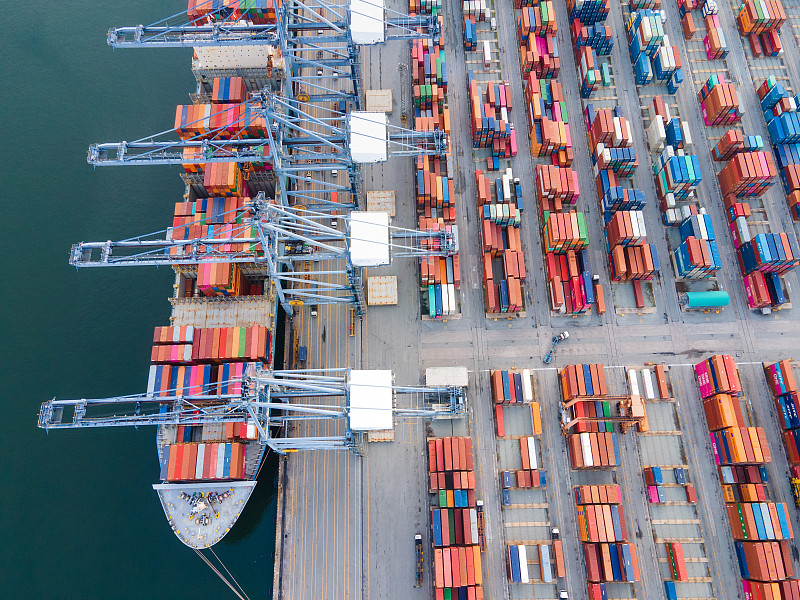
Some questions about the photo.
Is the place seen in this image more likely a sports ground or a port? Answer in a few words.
port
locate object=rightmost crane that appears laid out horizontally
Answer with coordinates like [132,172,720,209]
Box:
[559,395,653,434]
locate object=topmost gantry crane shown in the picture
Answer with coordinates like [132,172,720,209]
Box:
[108,0,445,135]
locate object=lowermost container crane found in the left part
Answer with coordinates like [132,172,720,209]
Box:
[38,366,472,466]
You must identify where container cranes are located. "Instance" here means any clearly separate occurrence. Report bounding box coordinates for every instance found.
[68,198,461,328]
[559,395,653,434]
[108,0,445,135]
[87,88,453,234]
[38,366,472,466]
